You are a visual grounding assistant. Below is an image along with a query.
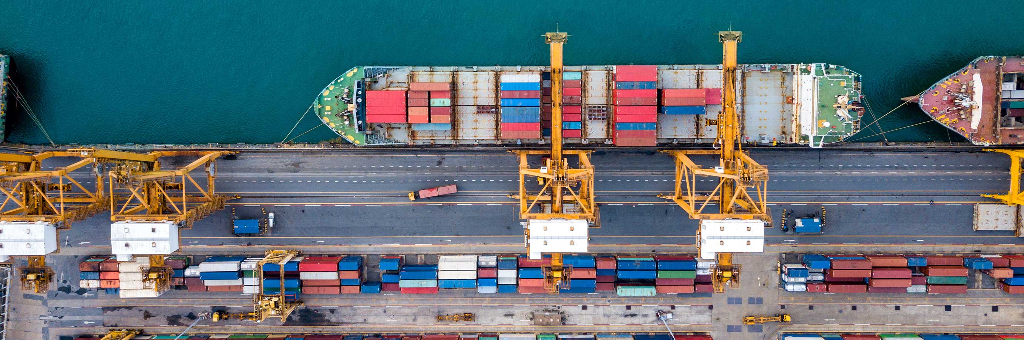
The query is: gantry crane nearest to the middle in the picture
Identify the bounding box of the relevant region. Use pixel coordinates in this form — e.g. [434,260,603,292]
[508,23,602,294]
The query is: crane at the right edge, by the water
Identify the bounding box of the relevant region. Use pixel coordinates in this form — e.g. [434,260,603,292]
[975,148,1024,204]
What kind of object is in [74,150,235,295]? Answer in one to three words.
container crane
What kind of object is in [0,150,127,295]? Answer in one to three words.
container crane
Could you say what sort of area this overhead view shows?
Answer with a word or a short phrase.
port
